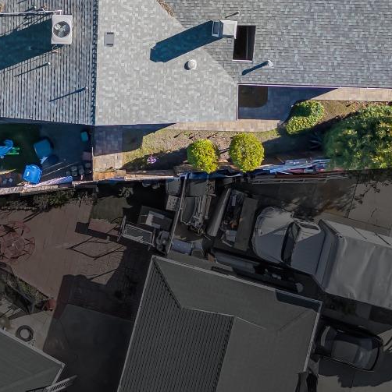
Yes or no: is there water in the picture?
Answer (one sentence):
No, there's no water in this view.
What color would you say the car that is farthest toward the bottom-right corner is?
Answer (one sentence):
The color of the car that is farthest toward the bottom-right corner is black.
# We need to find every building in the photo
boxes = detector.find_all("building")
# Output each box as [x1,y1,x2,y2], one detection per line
[117,250,325,392]
[0,0,392,125]
[0,314,67,392]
